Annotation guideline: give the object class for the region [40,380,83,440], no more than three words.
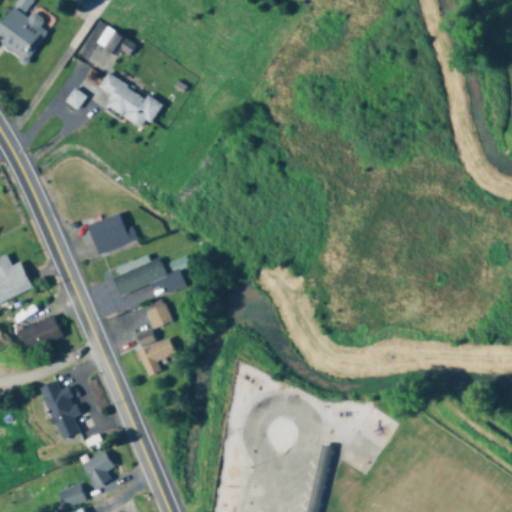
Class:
house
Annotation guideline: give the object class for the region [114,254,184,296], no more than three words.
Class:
house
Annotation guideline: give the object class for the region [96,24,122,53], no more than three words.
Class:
building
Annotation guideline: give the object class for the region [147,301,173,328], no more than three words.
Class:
building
